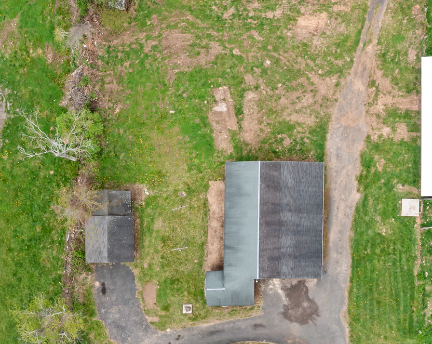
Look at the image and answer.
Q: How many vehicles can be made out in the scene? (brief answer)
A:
none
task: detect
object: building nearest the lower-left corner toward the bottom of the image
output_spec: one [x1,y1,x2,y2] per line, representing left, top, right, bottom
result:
[85,190,135,263]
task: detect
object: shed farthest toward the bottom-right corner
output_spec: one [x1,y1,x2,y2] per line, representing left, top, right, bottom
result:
[399,200,421,216]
